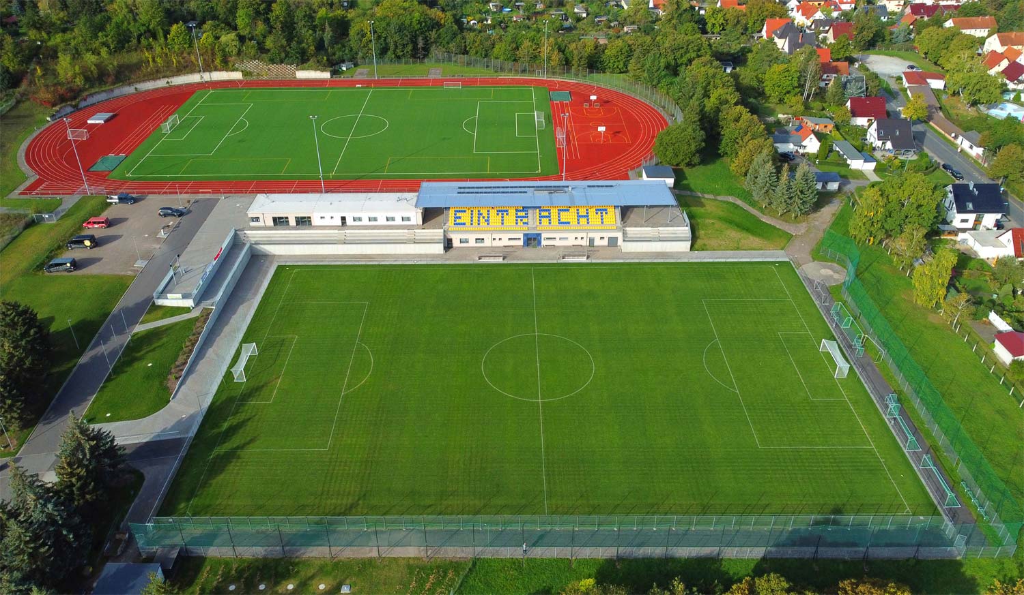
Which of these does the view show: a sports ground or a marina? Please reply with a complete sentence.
What you see here is a sports ground.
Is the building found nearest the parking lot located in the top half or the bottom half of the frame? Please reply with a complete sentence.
The building found nearest the parking lot sits in the top half of the picture.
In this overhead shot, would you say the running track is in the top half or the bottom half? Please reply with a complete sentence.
The top half of the photo is where the running track is.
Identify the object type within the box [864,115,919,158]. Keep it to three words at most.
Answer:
house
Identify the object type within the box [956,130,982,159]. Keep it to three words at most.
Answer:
house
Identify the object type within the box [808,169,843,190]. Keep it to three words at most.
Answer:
building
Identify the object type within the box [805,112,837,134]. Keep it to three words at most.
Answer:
shed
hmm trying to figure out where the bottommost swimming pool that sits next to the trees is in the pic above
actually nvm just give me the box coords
[983,101,1024,122]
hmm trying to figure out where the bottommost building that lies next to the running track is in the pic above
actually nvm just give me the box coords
[242,188,427,226]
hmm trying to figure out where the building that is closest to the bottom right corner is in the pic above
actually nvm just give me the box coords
[976,324,1024,370]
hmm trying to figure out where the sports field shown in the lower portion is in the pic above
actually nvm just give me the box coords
[148,261,951,530]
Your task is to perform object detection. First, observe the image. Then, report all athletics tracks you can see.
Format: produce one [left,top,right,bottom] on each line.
[29,78,668,195]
